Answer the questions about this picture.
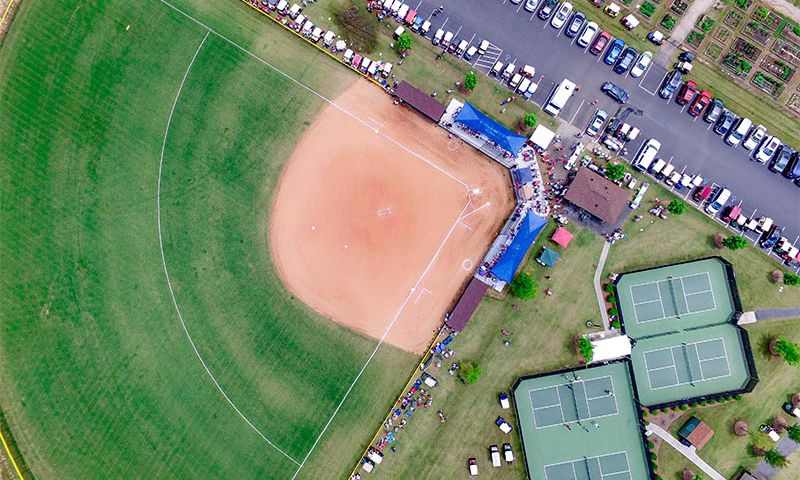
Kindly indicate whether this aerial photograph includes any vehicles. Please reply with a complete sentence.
Yes, a vehicle can be made out from above.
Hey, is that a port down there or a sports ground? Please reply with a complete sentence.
The area seen from above is a sports ground.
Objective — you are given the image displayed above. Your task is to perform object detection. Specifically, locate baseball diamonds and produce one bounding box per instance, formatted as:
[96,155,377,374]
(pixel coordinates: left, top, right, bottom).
[0,0,516,480]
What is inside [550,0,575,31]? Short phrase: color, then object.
white car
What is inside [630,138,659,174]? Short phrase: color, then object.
white van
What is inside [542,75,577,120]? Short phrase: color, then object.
white vehicle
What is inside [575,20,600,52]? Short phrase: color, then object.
white car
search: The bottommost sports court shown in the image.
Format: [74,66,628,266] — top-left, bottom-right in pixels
[530,443,649,480]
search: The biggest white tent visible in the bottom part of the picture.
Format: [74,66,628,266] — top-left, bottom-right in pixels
[586,332,631,362]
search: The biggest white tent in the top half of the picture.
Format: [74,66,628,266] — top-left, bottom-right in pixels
[528,124,555,152]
